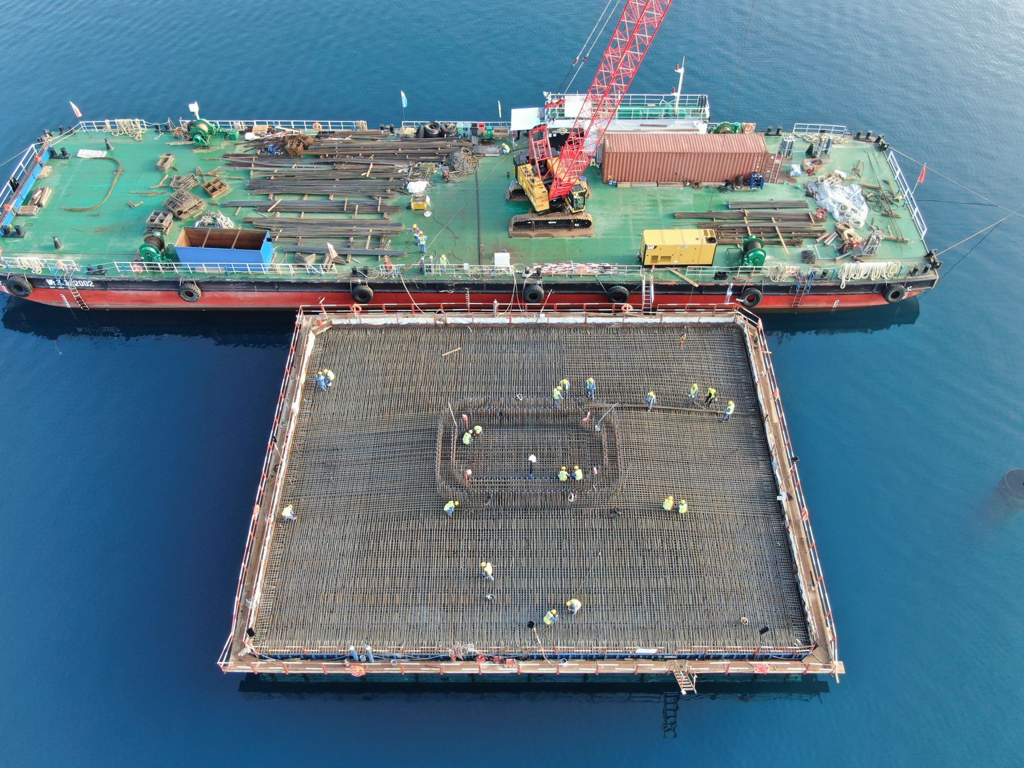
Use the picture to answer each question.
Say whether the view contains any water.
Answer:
Yes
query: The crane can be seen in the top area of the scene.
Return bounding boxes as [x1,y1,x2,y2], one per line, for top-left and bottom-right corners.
[507,0,747,338]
